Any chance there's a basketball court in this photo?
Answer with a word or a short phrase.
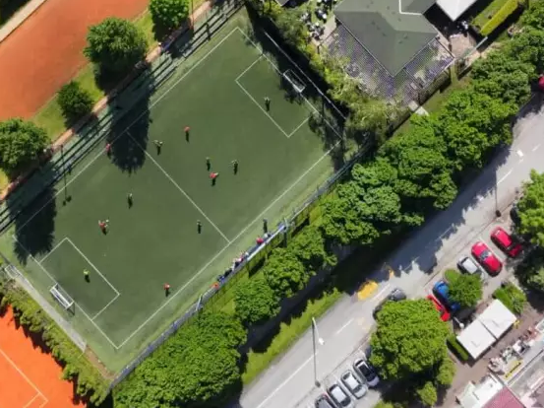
No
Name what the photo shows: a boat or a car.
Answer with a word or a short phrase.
car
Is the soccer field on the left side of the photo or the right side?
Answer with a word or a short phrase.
left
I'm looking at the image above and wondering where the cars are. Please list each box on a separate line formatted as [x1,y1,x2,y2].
[453,254,481,273]
[350,354,382,388]
[427,280,460,313]
[371,287,404,317]
[490,226,520,256]
[324,380,356,408]
[419,292,451,323]
[339,368,367,398]
[469,241,500,273]
[312,392,338,408]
